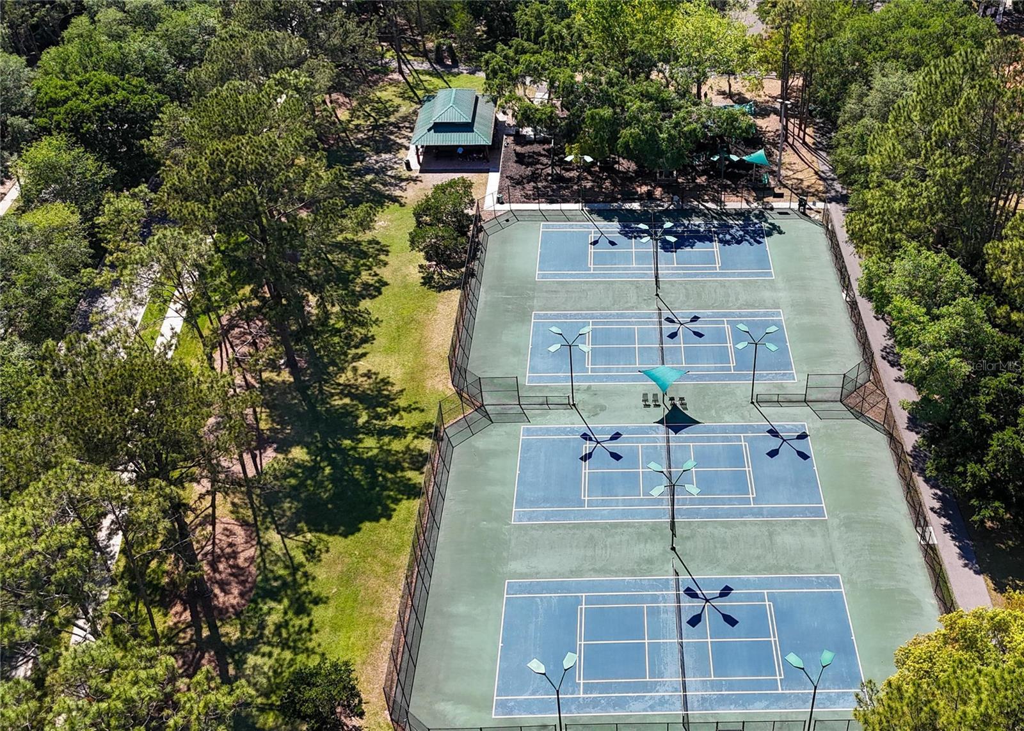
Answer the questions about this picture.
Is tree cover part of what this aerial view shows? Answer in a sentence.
Yes, the picture does contain tree cover.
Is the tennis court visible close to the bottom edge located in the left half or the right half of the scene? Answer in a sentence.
The tennis court visible close to the bottom edge appears in the right half of the scene.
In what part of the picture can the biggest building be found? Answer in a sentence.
You can find the biggest building in the top area of the picture.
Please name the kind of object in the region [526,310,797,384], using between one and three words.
tennis court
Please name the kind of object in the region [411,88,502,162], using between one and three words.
building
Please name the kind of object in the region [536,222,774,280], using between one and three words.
tennis court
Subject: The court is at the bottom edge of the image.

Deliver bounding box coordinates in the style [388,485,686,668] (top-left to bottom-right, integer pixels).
[493,575,870,718]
